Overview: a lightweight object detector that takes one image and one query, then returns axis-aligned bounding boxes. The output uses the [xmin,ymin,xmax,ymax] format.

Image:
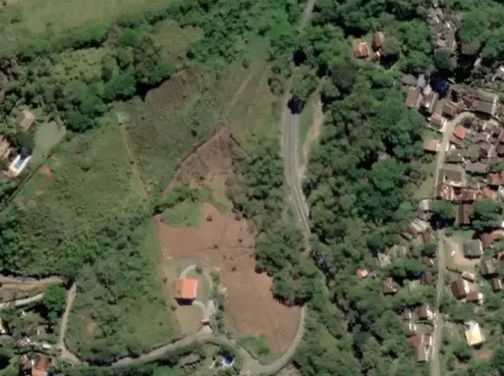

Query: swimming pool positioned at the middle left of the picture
[13,154,30,174]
